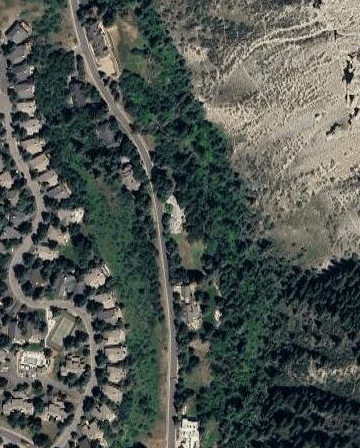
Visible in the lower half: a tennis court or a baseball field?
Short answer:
tennis court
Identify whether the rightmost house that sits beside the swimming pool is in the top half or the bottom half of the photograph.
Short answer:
bottom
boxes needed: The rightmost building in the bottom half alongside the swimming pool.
[60,357,85,380]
